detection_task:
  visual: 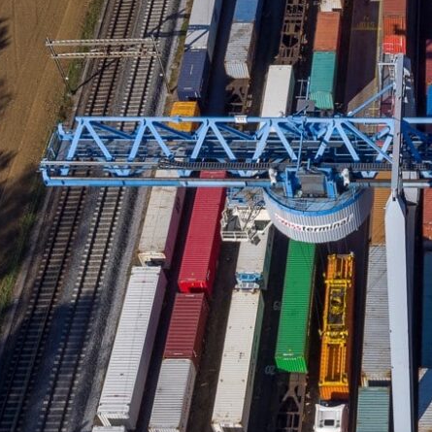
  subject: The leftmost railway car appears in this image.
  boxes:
[104,279,169,432]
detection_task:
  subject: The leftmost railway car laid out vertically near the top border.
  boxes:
[196,0,229,116]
